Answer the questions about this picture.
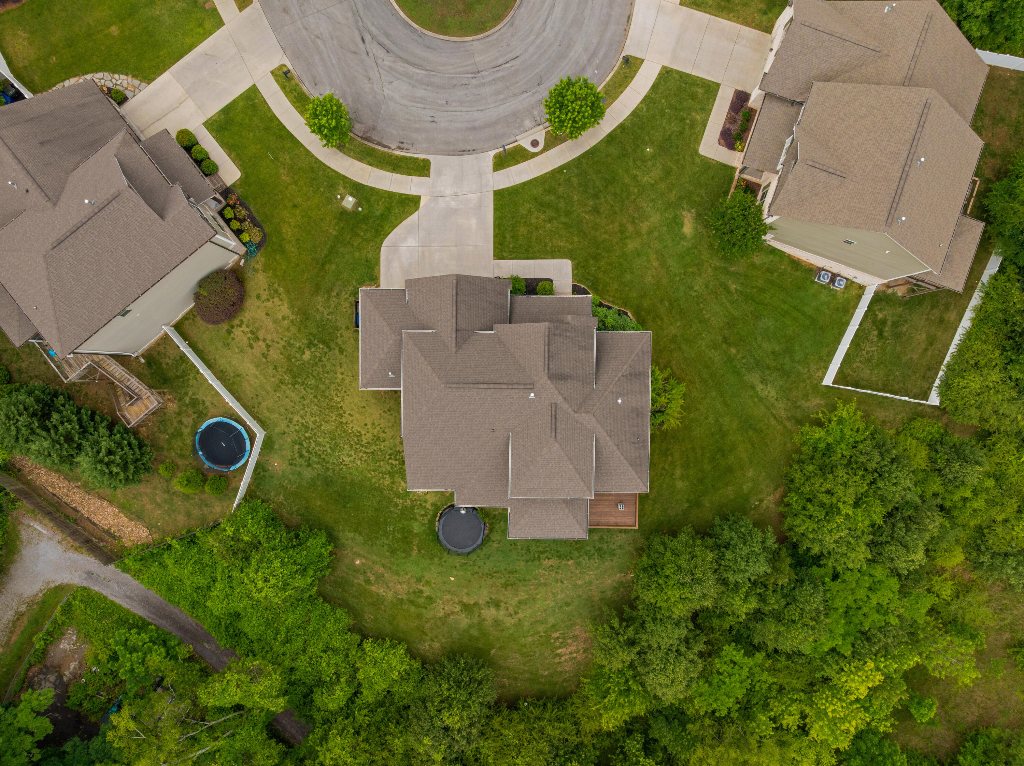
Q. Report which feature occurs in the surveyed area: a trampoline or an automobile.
trampoline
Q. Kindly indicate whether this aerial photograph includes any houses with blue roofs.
No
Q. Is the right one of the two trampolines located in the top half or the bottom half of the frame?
bottom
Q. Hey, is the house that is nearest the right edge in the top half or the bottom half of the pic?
top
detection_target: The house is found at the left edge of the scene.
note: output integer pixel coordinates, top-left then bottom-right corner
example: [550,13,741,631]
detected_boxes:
[0,77,251,361]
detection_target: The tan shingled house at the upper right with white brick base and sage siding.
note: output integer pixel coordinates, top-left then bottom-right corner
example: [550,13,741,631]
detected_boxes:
[727,0,992,299]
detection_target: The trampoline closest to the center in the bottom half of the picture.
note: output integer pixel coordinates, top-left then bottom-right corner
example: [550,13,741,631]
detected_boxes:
[437,506,487,557]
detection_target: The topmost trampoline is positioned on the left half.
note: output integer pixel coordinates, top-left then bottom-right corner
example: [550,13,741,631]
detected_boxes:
[186,417,253,472]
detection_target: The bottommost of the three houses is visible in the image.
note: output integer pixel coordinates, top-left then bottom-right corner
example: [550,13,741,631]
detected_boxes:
[357,274,653,541]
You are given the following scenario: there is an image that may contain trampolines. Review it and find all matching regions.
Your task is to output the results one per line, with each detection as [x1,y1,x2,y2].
[437,506,487,557]
[186,417,253,472]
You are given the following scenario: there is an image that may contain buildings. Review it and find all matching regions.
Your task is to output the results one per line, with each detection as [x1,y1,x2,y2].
[0,77,251,361]
[727,0,992,299]
[357,274,653,541]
